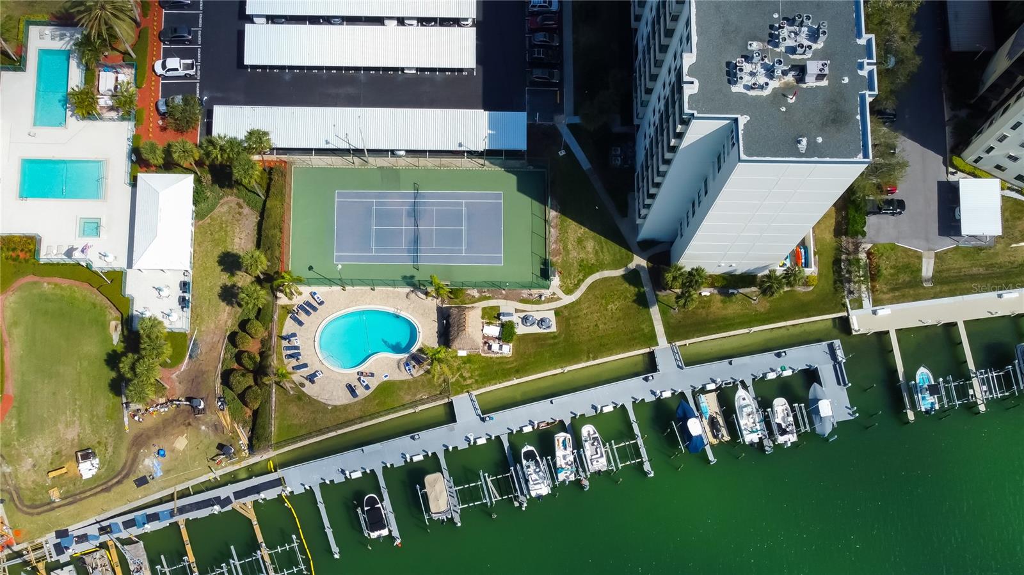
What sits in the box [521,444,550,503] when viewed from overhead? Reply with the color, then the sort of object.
white boat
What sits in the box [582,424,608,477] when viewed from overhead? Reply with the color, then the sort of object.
white boat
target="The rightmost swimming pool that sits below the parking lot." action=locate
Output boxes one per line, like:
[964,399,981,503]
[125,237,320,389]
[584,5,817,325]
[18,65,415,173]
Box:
[316,306,422,373]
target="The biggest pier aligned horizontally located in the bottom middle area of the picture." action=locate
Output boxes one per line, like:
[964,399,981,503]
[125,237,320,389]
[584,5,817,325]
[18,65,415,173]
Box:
[48,339,859,564]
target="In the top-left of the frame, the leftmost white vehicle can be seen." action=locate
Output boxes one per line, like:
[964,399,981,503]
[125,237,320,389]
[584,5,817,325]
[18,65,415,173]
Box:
[154,58,196,76]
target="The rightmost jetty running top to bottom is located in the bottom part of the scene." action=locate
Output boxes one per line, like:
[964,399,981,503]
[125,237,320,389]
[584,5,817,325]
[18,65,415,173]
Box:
[954,321,985,413]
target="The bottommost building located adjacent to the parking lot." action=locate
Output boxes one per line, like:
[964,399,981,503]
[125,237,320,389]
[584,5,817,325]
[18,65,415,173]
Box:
[132,173,196,276]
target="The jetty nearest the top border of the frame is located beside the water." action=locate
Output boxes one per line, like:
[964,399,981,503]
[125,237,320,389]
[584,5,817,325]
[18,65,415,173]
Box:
[847,287,1024,335]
